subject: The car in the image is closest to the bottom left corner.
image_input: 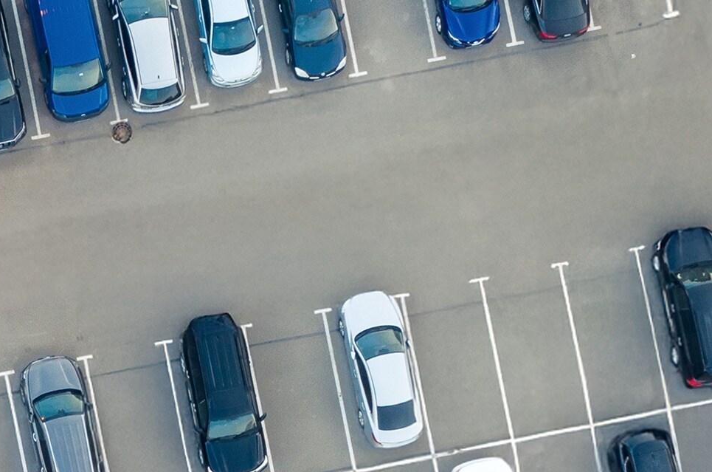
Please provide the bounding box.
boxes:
[25,354,103,472]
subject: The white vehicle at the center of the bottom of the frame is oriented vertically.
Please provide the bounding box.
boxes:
[343,290,428,450]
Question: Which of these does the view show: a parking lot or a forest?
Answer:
parking lot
